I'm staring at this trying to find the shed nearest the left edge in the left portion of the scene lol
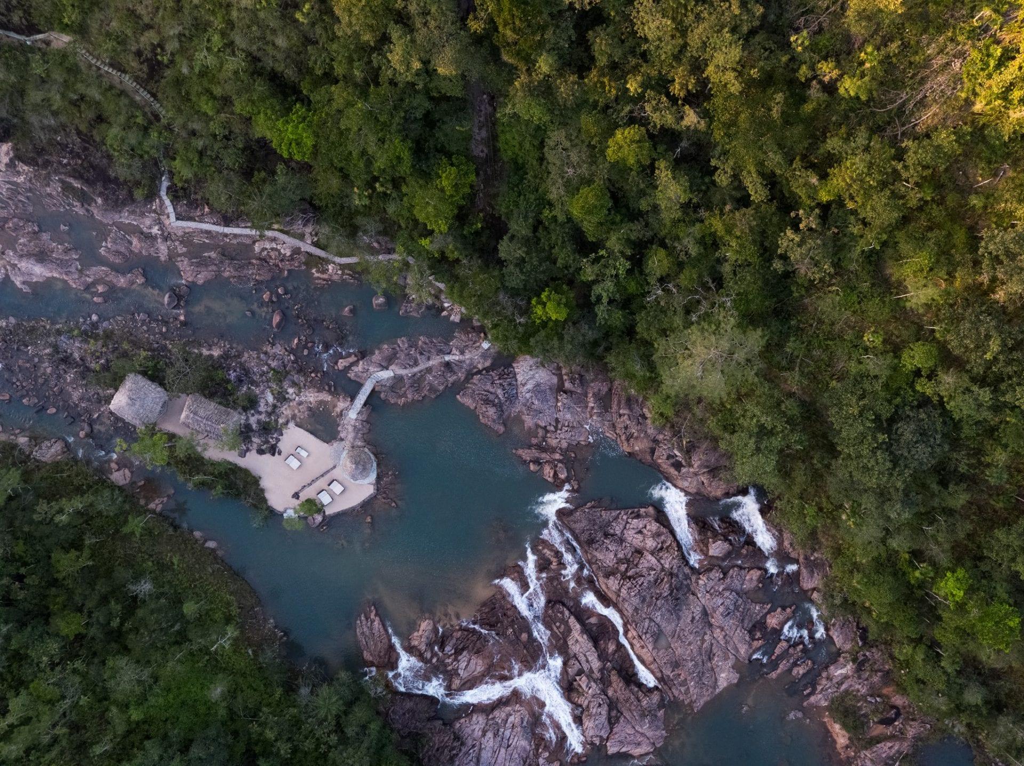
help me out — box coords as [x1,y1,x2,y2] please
[107,367,175,433]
